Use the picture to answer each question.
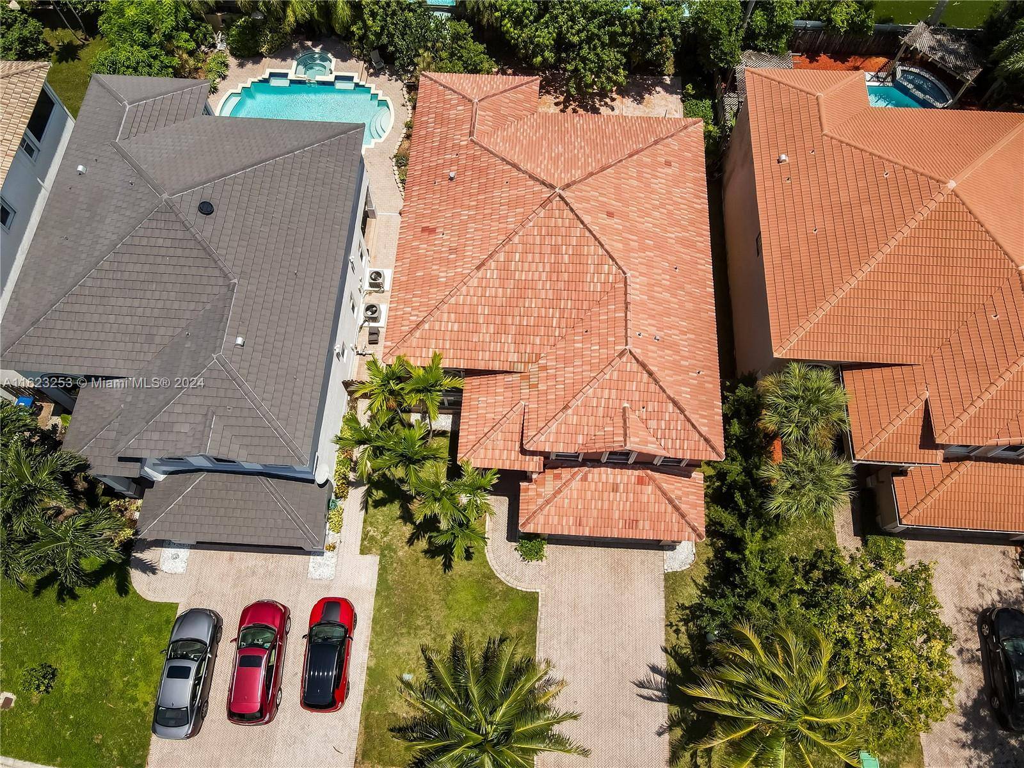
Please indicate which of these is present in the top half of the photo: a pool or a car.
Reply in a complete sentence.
The one visible in the top half of the photo is a pool.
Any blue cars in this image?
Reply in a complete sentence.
No, I can't see a single blue car in this photo.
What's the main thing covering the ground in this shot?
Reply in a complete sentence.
For the most part, this view shows buildings.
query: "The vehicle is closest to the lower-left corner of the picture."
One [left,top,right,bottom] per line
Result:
[151,606,222,740]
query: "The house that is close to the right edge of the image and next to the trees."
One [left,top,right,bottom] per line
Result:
[721,64,1024,536]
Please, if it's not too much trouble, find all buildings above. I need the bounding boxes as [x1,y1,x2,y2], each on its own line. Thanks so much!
[383,67,728,545]
[0,72,370,555]
[721,64,1024,536]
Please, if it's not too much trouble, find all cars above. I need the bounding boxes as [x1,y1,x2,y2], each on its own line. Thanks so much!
[299,597,357,711]
[980,603,1024,730]
[151,606,222,740]
[227,599,290,725]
